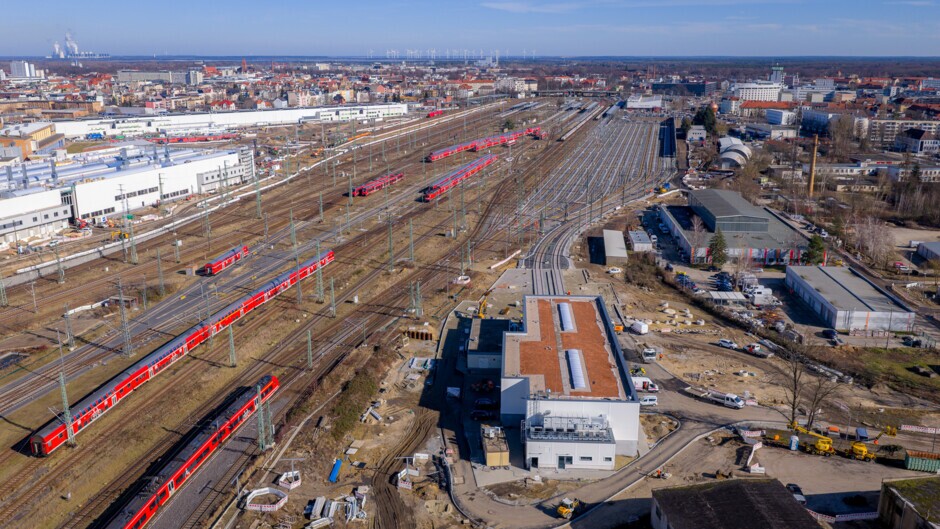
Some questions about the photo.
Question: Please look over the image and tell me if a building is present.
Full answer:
Yes, I can see a building in this picture.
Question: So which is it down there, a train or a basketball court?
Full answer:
Looking from above, you can make out a train.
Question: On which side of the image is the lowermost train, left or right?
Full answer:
The lowermost train is on the left side of the image.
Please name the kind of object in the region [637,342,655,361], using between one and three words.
vehicle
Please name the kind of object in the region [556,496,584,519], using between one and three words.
work vehicle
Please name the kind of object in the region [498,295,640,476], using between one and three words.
building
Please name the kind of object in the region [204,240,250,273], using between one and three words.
train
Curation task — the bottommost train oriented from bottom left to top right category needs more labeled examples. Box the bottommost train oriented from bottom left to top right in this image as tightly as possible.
[85,373,285,529]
